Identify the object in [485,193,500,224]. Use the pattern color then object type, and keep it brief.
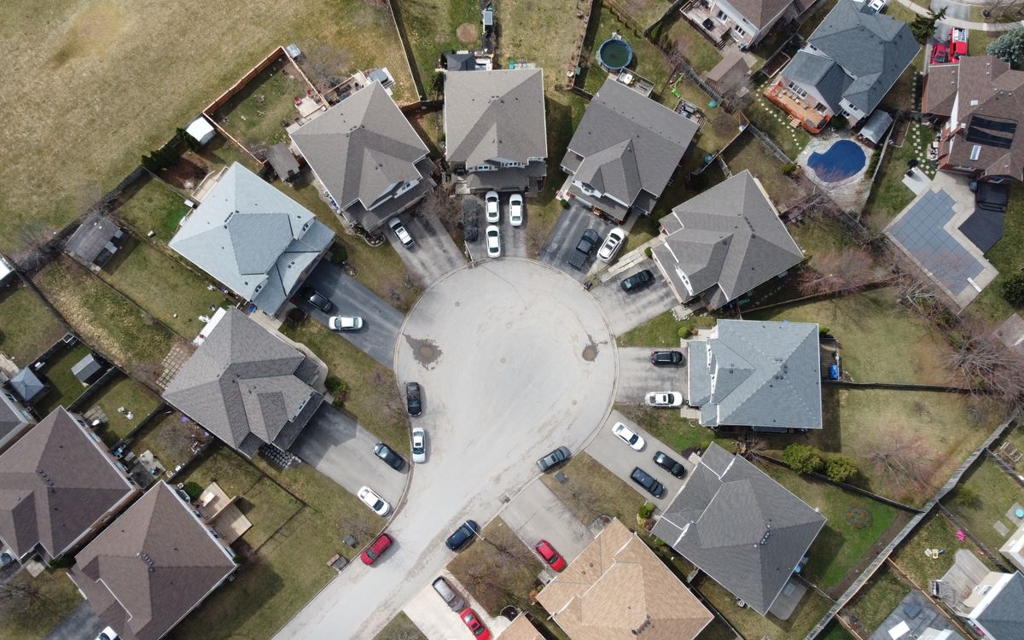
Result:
white car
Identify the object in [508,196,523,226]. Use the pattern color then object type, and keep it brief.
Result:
white car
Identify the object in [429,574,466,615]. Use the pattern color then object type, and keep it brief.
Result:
gray truck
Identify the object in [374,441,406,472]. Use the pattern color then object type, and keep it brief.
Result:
black car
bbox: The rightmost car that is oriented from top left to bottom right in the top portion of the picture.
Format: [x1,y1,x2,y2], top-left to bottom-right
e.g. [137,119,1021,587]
[388,218,416,249]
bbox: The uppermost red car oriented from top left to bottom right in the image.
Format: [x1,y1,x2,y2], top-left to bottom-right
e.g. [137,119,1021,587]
[535,539,565,573]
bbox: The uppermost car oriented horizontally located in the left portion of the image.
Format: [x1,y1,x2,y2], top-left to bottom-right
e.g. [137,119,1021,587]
[329,316,363,331]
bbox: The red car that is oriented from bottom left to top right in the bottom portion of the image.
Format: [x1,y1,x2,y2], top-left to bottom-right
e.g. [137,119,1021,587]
[360,532,394,565]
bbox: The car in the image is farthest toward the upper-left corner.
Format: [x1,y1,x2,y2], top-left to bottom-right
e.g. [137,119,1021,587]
[301,287,334,313]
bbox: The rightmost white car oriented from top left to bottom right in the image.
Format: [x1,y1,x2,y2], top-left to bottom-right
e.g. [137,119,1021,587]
[612,421,644,451]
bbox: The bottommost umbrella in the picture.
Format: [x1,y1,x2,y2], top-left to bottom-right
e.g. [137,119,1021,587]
[886,617,907,638]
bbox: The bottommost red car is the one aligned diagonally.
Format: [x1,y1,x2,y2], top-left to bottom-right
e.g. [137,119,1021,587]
[460,608,491,640]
